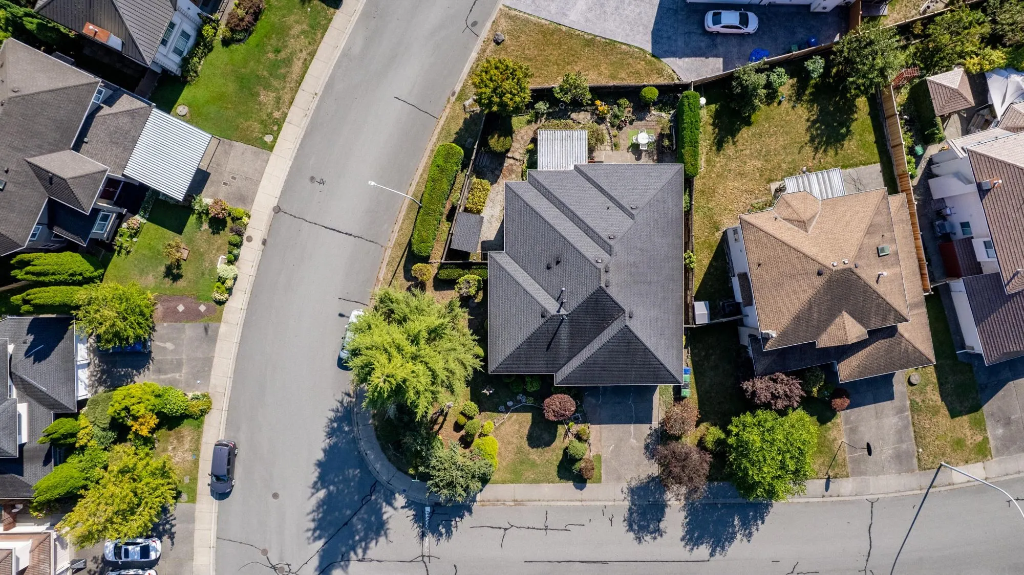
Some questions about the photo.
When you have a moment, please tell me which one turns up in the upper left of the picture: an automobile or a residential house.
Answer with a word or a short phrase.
residential house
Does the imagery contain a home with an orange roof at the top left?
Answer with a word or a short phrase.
No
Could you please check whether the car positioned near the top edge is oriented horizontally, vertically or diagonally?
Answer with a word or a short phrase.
horizontally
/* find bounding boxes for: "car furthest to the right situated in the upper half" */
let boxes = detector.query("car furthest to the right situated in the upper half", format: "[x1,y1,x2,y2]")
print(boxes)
[703,8,758,36]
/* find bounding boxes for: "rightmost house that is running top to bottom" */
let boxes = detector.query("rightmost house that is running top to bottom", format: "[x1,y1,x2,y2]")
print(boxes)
[916,98,1024,366]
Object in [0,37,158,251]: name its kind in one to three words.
house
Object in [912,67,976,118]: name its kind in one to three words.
gazebo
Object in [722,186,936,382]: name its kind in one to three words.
house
